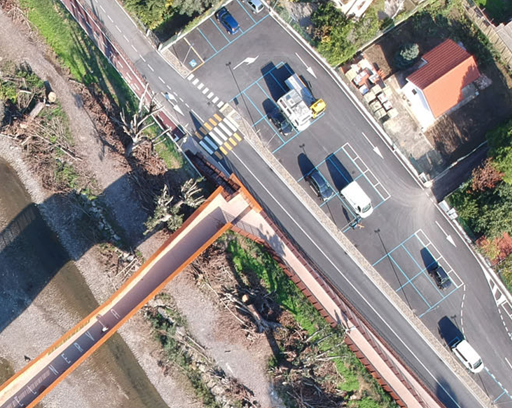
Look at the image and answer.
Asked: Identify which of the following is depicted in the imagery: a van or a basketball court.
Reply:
van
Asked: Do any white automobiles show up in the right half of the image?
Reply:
Yes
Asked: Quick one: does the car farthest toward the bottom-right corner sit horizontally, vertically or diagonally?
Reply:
diagonally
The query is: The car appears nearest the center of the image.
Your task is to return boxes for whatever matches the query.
[305,171,333,201]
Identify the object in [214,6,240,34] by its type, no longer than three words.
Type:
car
